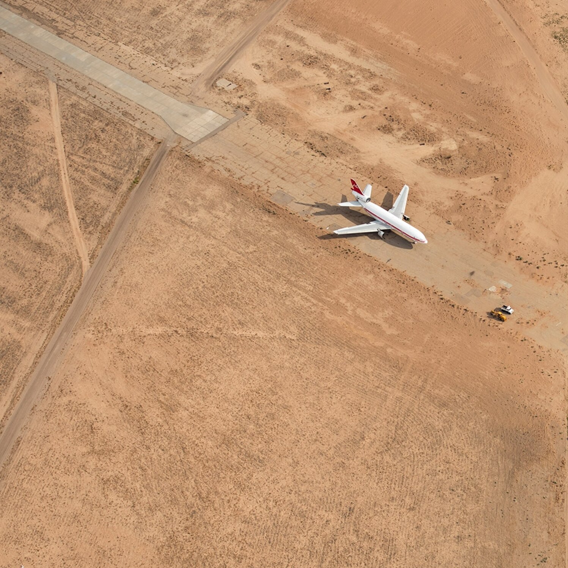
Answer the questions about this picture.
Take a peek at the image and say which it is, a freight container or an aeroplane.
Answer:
aeroplane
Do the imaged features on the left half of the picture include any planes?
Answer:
No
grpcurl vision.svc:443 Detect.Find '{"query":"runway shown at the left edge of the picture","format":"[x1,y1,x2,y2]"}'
[0,6,211,139]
